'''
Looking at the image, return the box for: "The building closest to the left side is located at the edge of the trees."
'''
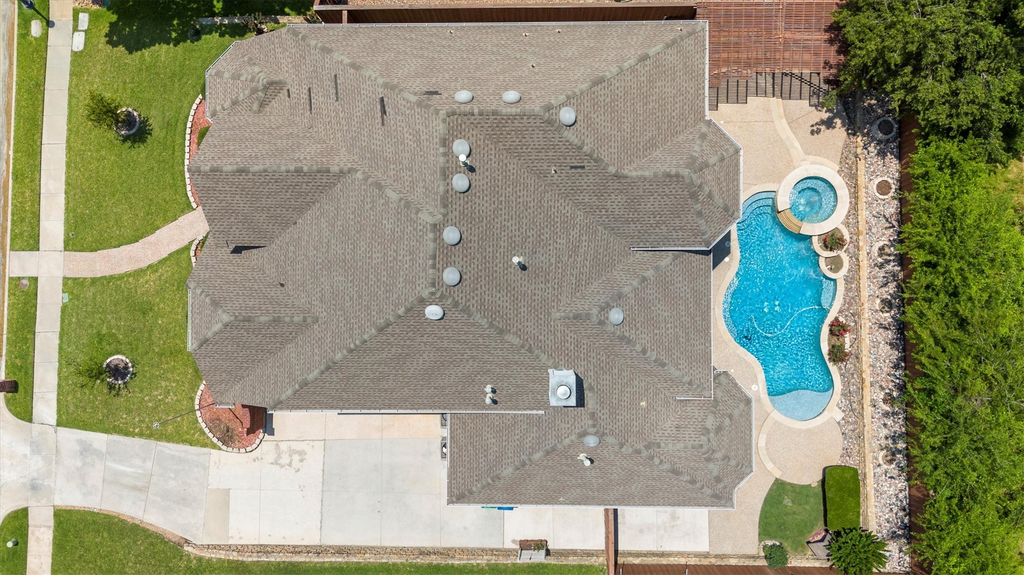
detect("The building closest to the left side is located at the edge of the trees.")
[188,20,754,508]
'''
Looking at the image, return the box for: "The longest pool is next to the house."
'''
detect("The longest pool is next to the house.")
[716,184,845,428]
